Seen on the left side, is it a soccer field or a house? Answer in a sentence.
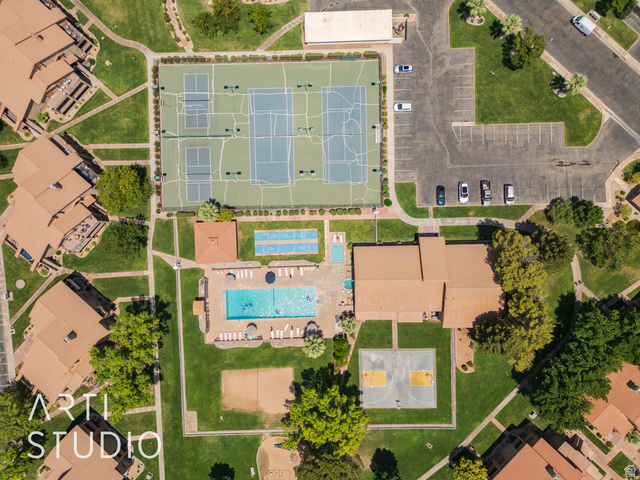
You can see a house on the left side.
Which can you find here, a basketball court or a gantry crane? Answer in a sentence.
This aerial view contains a basketball court.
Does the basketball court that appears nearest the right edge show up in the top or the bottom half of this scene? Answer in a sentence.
The bottom half of the photo is where the basketball court that appears nearest the right edge is.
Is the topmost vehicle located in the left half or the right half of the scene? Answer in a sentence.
It is on the right.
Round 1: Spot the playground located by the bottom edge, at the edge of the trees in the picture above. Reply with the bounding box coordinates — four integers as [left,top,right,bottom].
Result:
[257,436,304,480]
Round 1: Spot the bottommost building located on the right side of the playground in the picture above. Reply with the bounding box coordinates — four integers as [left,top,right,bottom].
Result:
[480,424,604,480]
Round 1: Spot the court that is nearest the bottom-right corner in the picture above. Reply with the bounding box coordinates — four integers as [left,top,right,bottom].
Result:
[359,348,437,409]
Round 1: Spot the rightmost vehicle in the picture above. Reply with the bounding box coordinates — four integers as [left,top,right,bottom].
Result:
[569,14,600,38]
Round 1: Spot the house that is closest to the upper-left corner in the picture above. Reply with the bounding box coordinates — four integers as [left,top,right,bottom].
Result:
[0,0,99,125]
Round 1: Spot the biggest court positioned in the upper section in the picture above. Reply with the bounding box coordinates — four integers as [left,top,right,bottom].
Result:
[160,60,381,211]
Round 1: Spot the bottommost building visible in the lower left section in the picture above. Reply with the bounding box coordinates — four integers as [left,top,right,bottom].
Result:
[44,407,138,480]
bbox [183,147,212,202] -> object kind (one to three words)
sports court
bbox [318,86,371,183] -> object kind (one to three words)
tennis court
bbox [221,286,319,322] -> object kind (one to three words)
swimming pool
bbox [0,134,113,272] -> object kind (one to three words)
house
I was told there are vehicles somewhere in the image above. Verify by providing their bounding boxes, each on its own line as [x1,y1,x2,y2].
[569,14,600,38]
[393,102,413,112]
[504,184,515,204]
[481,181,491,206]
[436,186,446,206]
[394,64,414,74]
[459,182,468,202]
